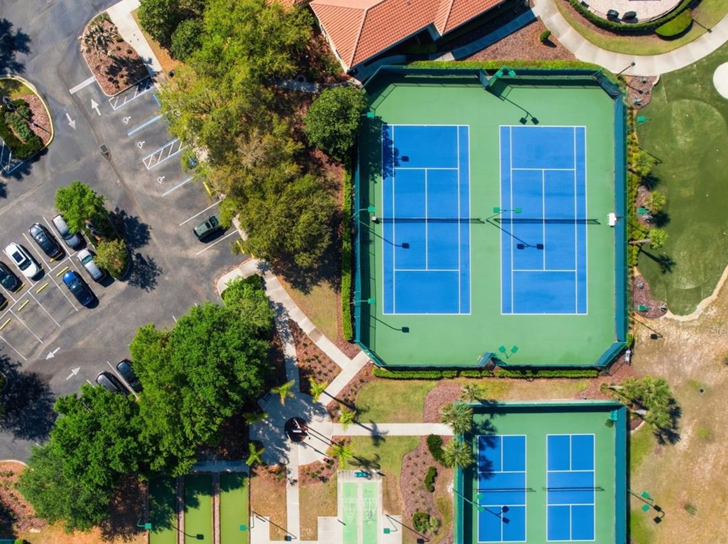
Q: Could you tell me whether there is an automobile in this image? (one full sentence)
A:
Yes, I can see an automobile in this picture.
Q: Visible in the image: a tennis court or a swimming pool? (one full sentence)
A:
It is a tennis court that can be seen here.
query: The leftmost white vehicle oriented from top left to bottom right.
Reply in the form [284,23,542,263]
[7,242,40,280]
